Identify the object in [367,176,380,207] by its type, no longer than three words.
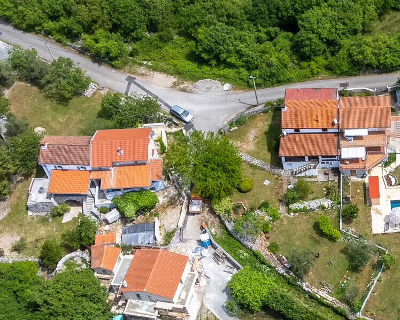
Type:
shed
